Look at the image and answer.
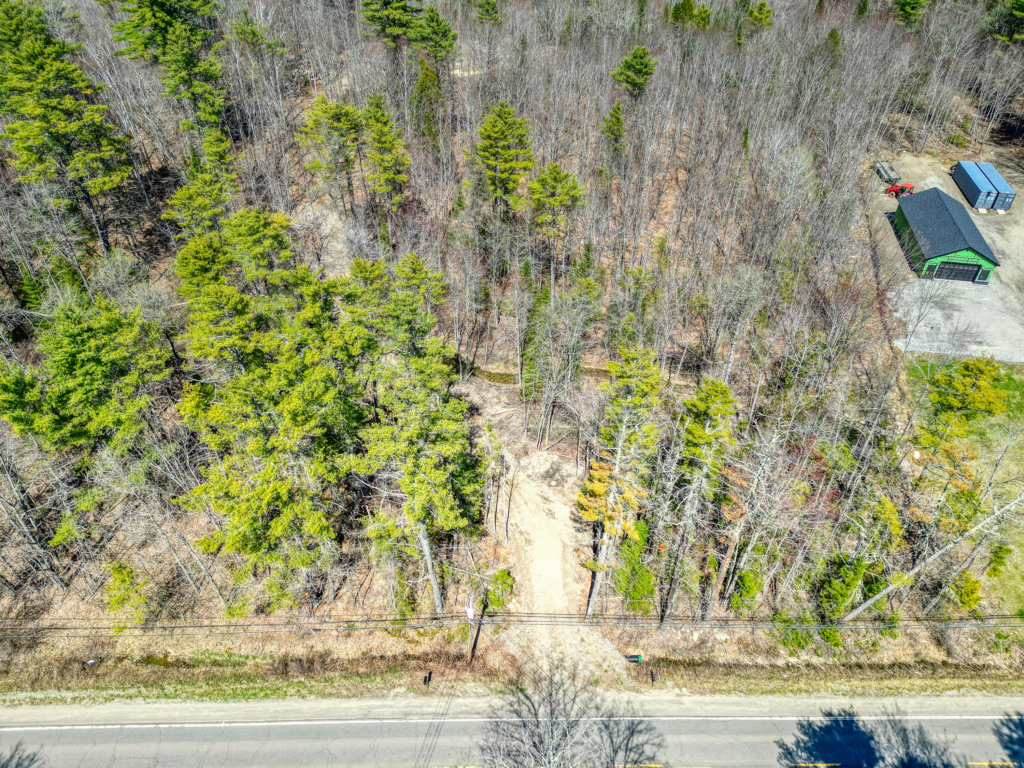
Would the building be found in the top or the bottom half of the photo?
top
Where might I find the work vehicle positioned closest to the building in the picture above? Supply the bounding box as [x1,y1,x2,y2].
[876,180,915,197]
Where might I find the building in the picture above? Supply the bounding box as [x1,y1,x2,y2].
[893,187,1001,285]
